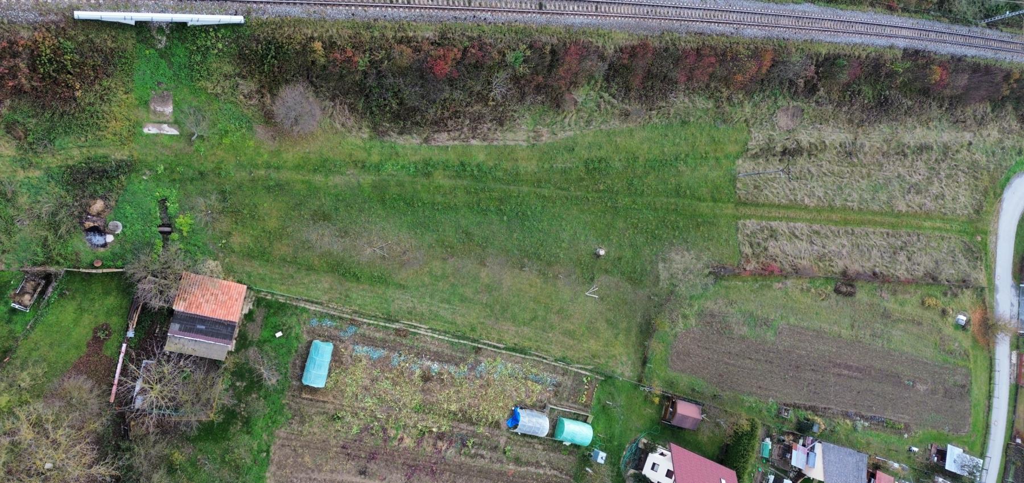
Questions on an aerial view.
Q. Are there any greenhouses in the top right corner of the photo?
No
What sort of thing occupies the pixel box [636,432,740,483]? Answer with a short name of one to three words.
house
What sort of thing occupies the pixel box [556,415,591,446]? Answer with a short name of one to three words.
greenhouse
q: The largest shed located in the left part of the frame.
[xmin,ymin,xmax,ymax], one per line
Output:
[164,272,259,361]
